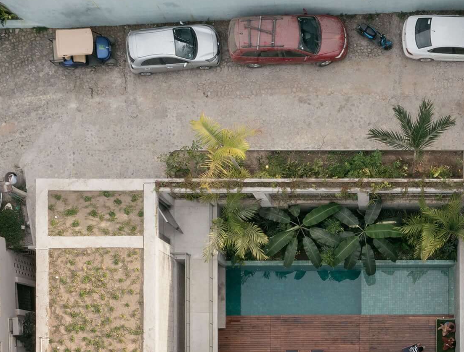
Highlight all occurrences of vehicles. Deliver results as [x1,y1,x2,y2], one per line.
[402,17,464,66]
[359,21,392,49]
[230,12,347,71]
[126,21,224,75]
[50,23,116,68]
